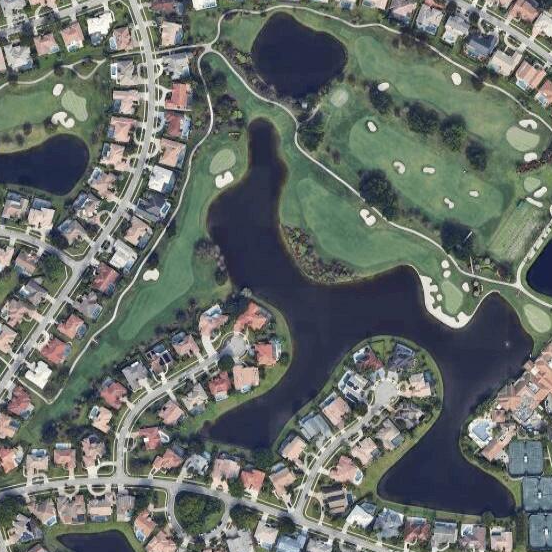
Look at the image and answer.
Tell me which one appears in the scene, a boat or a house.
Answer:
house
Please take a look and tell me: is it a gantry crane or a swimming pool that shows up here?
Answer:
swimming pool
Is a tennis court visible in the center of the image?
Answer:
No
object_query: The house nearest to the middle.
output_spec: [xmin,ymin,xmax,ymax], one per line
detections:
[239,305,268,331]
